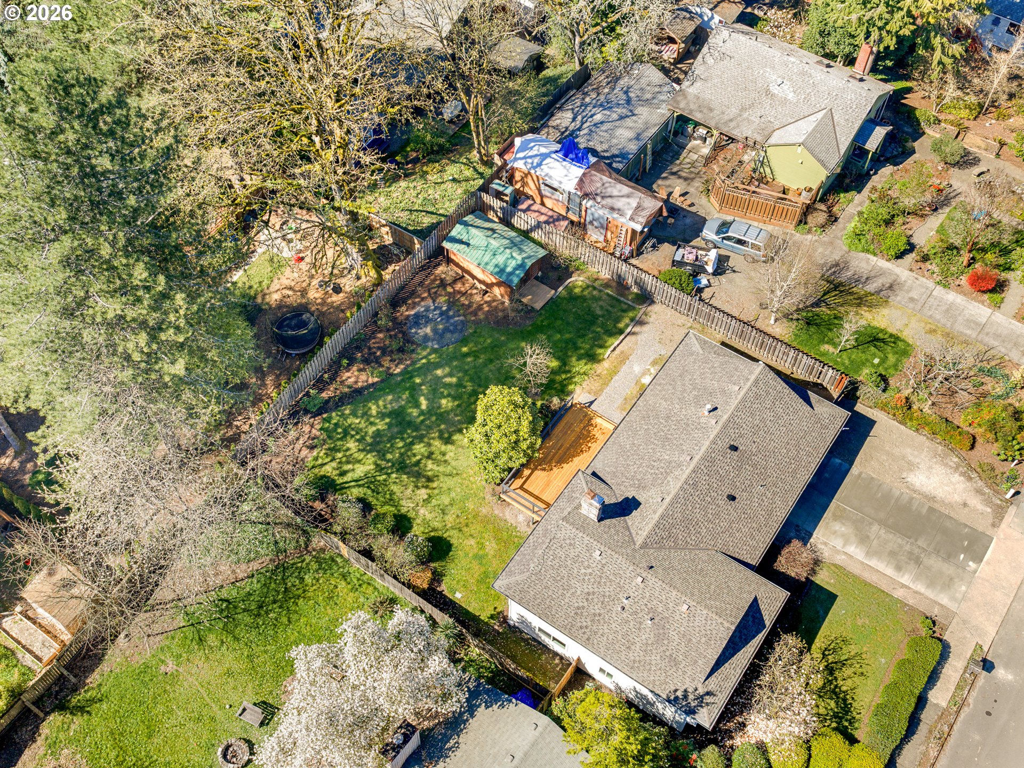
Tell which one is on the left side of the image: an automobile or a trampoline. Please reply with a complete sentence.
It is a trampoline that can be seen on the left side of the image.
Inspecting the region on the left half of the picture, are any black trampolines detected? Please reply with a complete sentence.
Yes, there is a black trampoline on the left half of the picture.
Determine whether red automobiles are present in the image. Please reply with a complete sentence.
No, there appears to be no red automobile in this shot.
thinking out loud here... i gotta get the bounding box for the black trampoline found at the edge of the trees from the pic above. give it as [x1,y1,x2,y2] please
[261,297,327,362]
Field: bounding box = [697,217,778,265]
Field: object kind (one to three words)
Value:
car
